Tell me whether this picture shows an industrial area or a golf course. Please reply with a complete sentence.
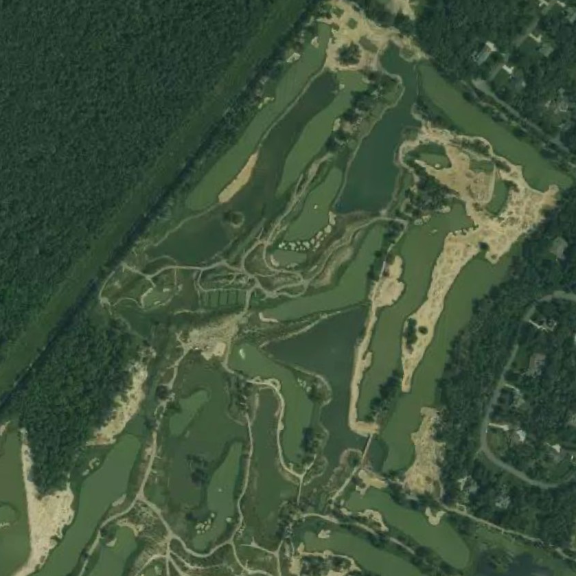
The picture captures a golf course.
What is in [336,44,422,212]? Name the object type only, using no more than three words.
pond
